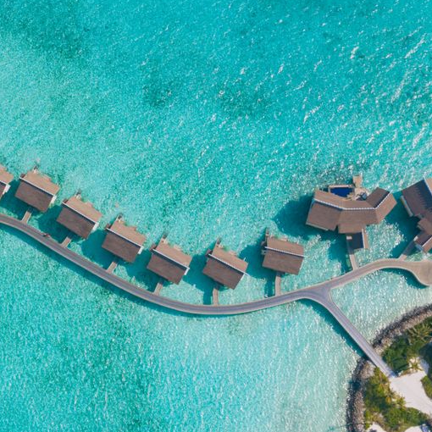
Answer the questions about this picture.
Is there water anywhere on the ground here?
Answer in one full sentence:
Yes, water shows up in the scene.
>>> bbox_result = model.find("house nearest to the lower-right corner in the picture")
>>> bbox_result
[259,229,306,277]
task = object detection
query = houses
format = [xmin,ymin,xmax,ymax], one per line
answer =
[55,191,102,240]
[0,164,13,199]
[200,239,248,290]
[259,229,306,277]
[146,235,194,286]
[100,215,146,265]
[14,165,60,215]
